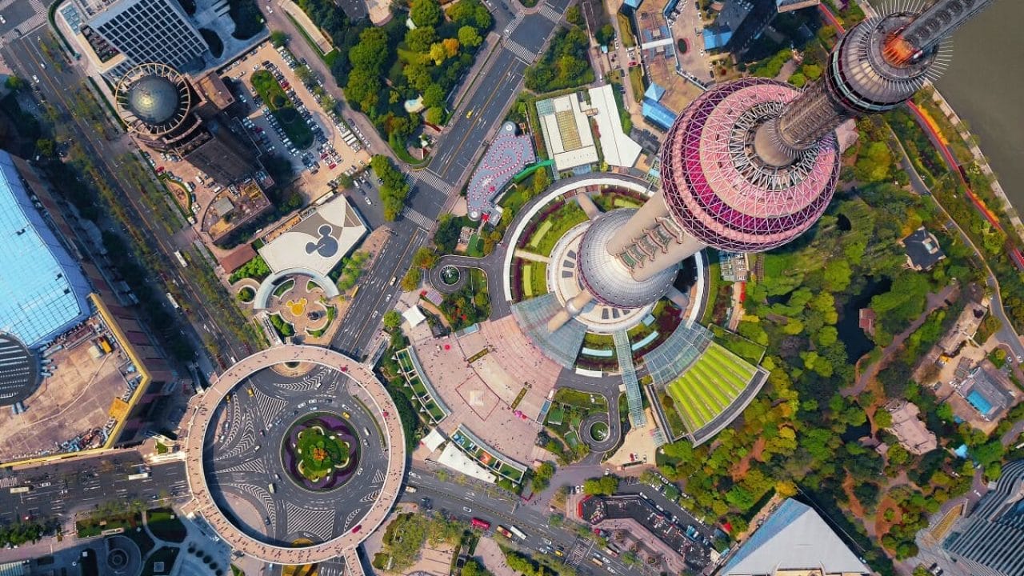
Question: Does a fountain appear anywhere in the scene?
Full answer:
Yes, there's a fountain here.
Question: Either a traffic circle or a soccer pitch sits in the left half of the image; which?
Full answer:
There is a traffic circle in the left half of the image.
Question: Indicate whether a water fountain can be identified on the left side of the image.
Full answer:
Yes, looking on the left side of the image, one can make out a water fountain.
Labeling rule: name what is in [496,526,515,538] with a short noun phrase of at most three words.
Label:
vehicle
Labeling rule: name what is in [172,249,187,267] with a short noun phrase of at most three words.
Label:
vehicle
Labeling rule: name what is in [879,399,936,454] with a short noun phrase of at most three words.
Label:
house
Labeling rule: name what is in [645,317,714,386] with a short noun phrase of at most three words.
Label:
building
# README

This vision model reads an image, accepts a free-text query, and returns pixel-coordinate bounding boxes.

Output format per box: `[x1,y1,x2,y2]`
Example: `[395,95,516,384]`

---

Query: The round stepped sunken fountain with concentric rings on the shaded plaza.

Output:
[93,535,141,576]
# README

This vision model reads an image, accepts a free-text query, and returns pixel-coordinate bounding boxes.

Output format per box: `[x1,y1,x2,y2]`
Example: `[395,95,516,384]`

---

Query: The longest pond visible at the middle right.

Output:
[837,272,891,365]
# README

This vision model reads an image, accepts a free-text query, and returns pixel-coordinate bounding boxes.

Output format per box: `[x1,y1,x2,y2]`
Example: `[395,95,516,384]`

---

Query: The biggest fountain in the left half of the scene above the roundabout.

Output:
[303,306,322,324]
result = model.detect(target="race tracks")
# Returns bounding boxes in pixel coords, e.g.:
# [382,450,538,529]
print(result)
[466,122,533,227]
